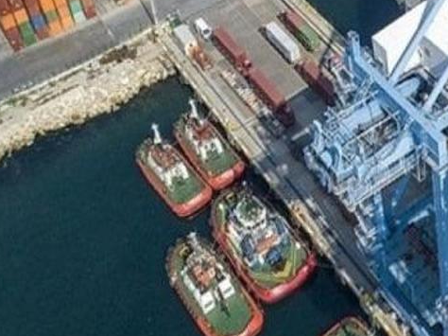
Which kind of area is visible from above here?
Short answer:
port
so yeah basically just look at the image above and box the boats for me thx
[134,111,215,224]
[214,162,323,303]
[174,84,254,193]
[169,219,267,336]
[323,317,375,336]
